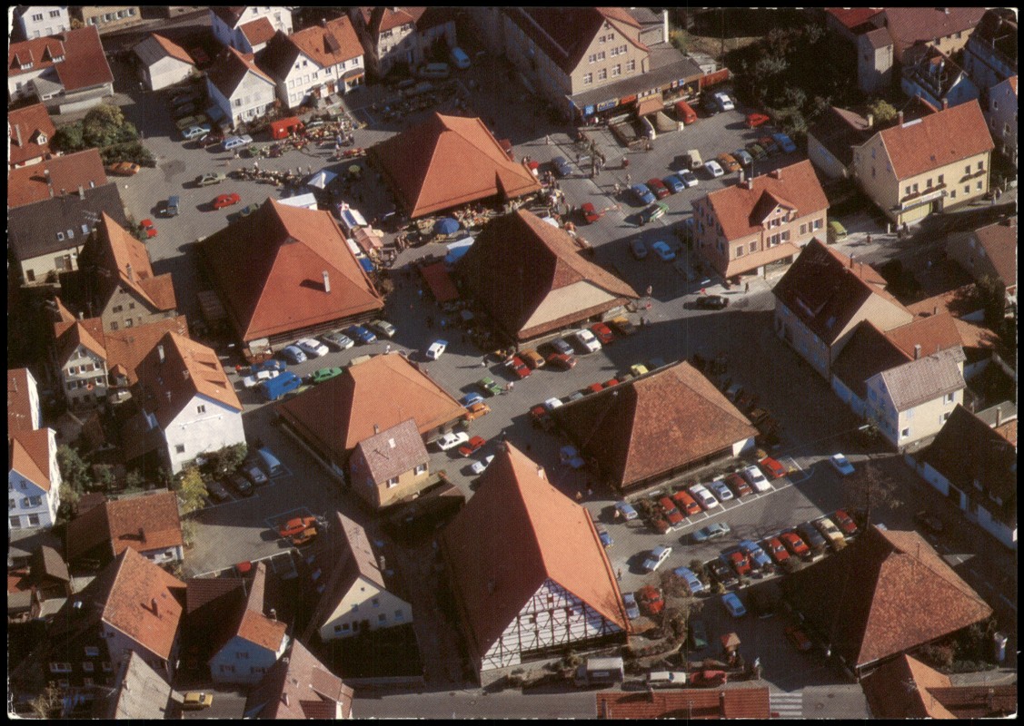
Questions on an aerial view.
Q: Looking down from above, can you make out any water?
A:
No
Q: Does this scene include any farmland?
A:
No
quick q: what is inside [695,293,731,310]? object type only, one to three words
car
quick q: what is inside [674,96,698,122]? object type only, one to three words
vehicle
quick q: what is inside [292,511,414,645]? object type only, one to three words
house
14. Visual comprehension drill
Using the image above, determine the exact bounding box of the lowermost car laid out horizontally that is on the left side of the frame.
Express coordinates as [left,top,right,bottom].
[176,692,219,711]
